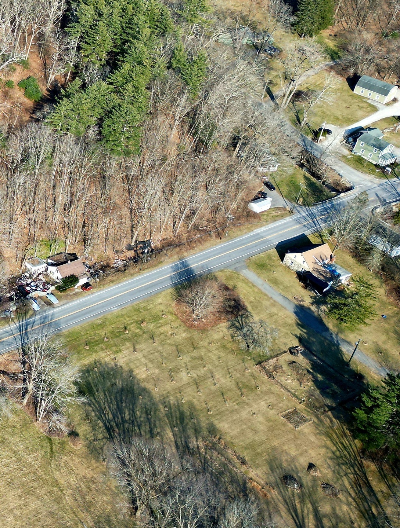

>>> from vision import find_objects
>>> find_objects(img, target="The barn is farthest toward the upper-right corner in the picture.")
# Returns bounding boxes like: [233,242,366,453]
[354,77,398,103]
